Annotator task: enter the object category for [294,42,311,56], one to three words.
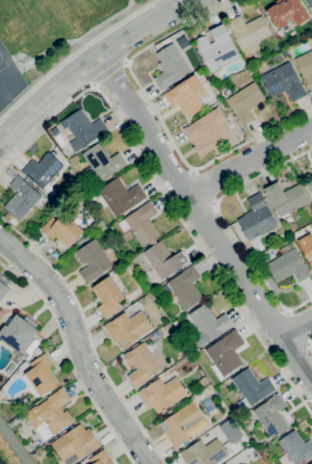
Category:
swimming pool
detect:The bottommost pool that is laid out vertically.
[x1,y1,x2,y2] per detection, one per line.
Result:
[0,346,12,370]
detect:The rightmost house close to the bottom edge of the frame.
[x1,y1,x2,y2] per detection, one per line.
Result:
[280,430,312,464]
